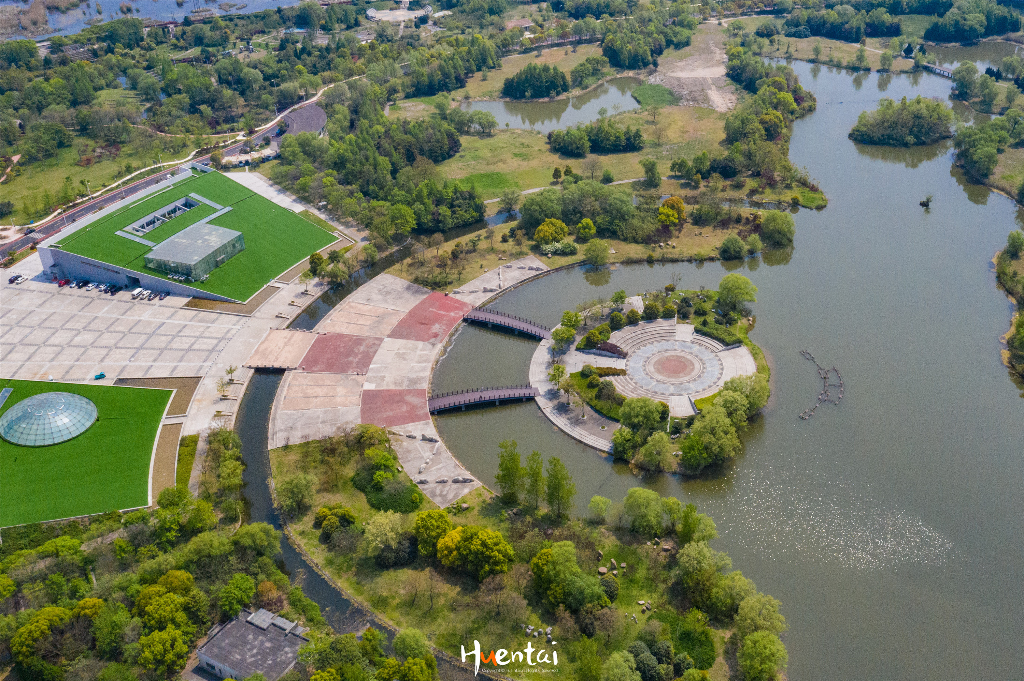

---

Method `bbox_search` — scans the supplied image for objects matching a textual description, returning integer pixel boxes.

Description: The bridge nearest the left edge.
[240,325,327,369]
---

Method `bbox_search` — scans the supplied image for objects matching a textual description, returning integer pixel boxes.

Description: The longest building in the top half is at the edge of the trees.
[24,159,345,306]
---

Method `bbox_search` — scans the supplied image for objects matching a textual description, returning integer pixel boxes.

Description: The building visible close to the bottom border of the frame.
[196,609,310,681]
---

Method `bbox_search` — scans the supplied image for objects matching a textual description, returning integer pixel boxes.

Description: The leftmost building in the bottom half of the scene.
[0,378,179,533]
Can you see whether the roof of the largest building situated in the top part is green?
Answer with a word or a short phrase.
Yes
